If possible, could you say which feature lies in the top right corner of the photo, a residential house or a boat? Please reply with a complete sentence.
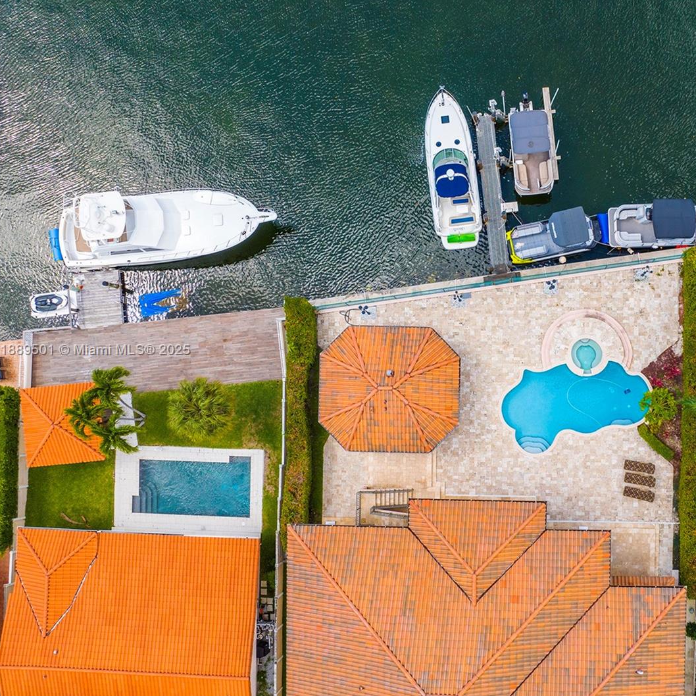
Looking in the top right corner of the photo, you will find a boat.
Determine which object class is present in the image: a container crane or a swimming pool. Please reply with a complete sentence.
The one in the frame is a swimming pool.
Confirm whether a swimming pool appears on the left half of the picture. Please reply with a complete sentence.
Yes, a swimming pool shows up on the left half of the picture.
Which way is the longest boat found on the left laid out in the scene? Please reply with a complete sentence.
In this picture, the longest boat found on the left is oriented from left to right.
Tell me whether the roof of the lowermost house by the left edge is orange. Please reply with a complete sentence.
Yes, the roof of the lowermost house by the left edge is indeed orange.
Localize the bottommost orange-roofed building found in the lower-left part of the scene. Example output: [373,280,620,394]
[0,525,260,696]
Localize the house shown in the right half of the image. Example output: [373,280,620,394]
[285,497,689,696]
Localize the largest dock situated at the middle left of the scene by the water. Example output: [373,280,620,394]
[68,267,126,328]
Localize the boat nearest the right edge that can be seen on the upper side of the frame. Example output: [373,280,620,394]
[608,199,696,248]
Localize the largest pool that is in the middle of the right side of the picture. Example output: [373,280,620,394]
[499,360,655,456]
